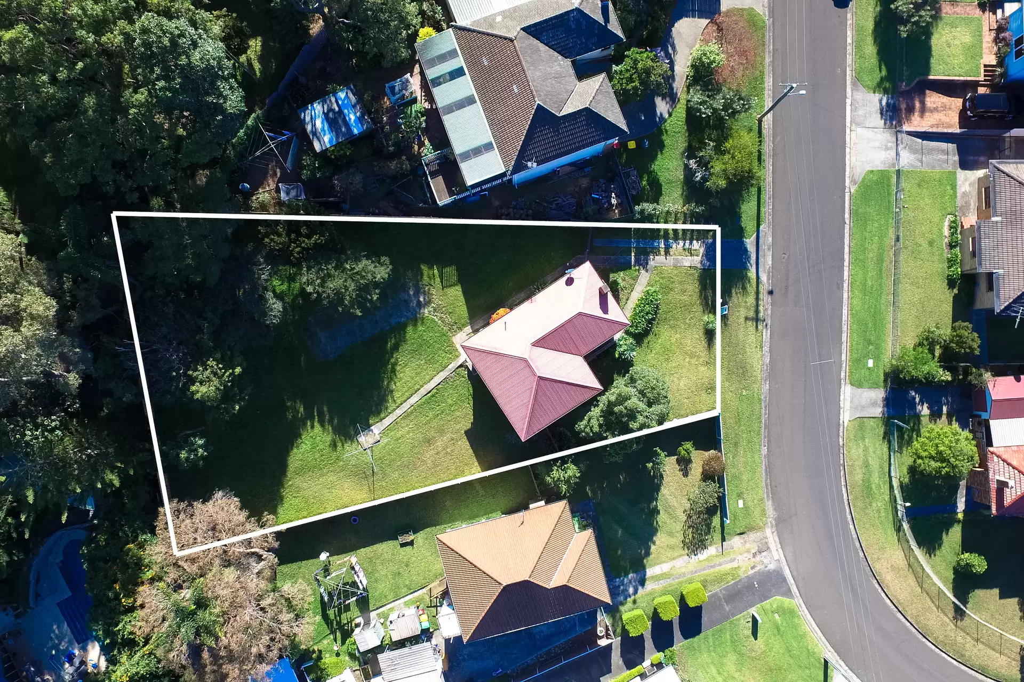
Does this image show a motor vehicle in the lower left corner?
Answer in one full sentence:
No, in the lower left corner there is no motor vehicle.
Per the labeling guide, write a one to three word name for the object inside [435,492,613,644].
house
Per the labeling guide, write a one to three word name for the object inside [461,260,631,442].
house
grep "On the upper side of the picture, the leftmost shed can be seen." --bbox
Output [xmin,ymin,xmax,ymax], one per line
[298,85,373,155]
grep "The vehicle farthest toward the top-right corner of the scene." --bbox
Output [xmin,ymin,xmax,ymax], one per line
[963,92,1017,118]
